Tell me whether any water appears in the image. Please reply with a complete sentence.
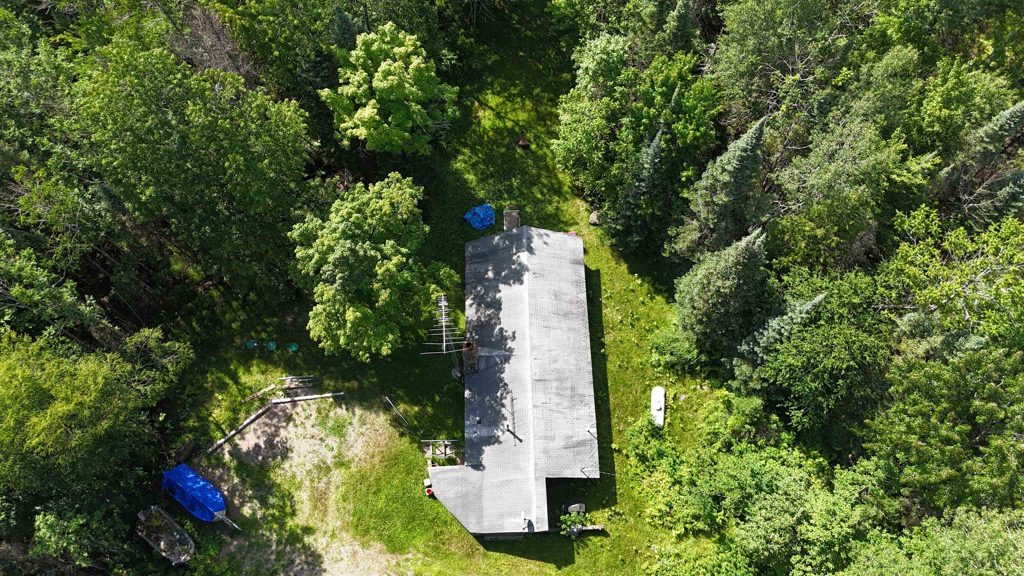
No, there's no water in this view.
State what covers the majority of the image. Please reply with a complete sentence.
For the most part, this view shows trees.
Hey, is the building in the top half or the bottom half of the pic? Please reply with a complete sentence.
The building sits in the bottom half of the picture.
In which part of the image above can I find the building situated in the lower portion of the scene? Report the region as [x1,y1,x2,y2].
[428,228,600,534]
